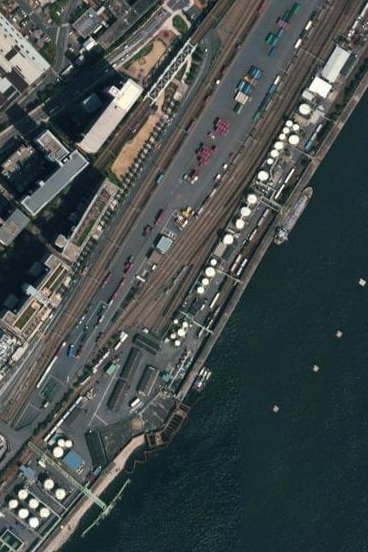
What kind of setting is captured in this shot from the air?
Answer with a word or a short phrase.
port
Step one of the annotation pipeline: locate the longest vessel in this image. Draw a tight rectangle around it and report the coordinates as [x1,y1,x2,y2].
[275,189,312,245]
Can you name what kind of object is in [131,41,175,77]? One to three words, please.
playground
